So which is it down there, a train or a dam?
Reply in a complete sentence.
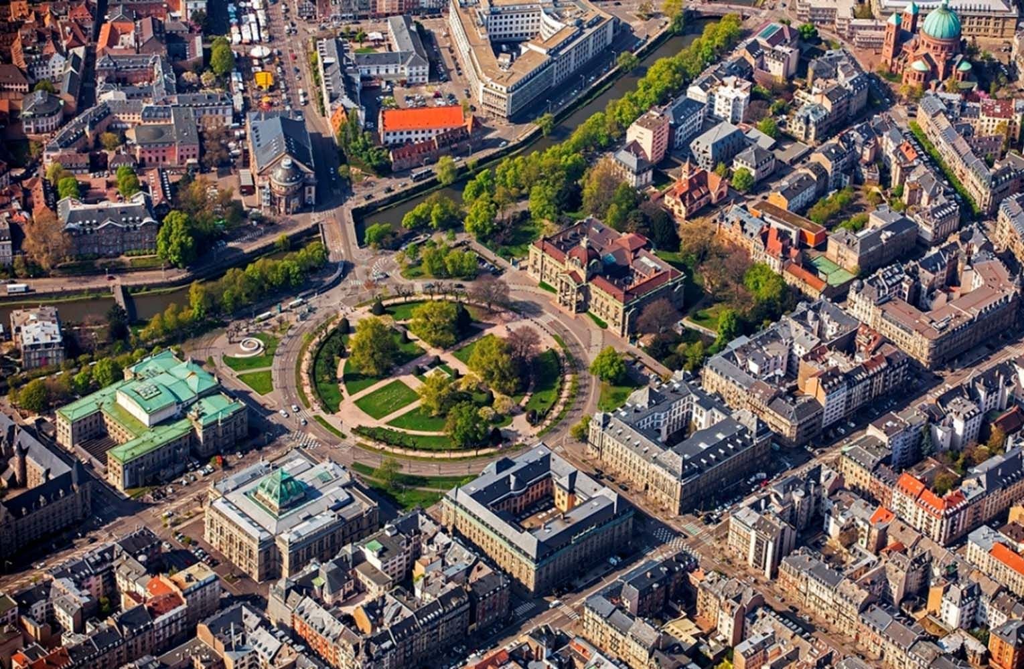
The one in the frame is a train.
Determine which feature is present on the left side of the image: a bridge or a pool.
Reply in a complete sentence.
Looking on the left side of the image, you will find a bridge.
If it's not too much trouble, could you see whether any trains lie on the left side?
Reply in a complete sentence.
Yes, a train can be seen on the left side.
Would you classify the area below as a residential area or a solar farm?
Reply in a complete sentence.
This image shows a residential area.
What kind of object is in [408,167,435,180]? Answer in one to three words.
vehicle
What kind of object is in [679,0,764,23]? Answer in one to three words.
bridge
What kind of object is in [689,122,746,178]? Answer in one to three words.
building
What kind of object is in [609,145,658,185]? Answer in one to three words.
house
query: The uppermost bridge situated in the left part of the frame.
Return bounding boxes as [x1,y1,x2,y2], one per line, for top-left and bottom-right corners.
[320,205,364,252]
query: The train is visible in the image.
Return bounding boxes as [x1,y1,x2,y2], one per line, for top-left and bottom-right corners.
[297,261,345,298]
